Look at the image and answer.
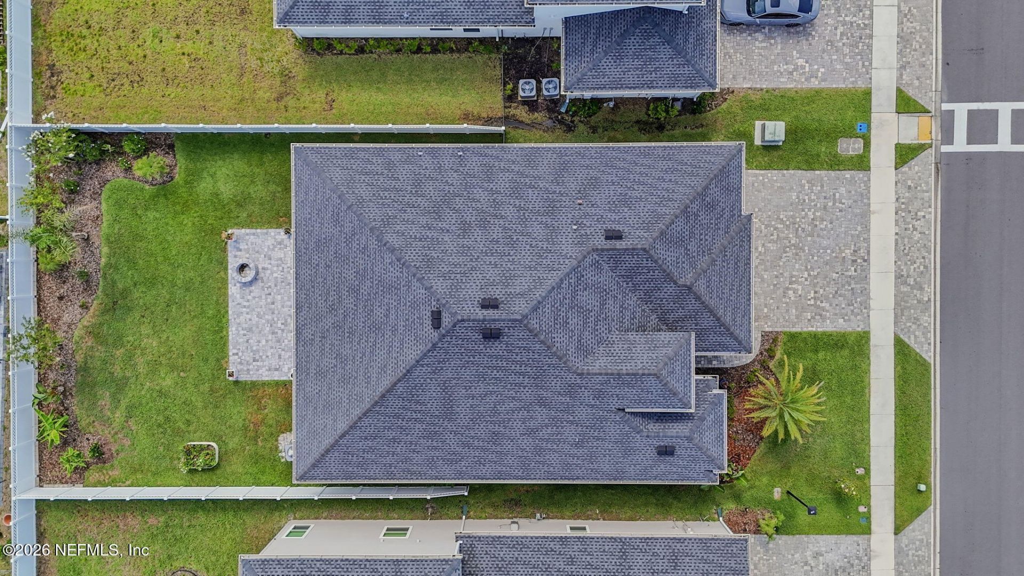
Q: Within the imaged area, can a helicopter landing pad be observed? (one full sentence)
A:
No, there's no helicopter landing pad here.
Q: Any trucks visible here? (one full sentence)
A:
No, I find no truck anywhere in the image.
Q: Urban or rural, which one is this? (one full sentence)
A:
This place is urban.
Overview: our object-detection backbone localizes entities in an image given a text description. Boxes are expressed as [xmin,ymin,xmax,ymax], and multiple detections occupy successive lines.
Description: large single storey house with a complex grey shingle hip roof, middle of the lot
[292,142,759,484]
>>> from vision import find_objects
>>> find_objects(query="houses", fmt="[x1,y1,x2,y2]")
[292,142,759,484]
[239,518,753,576]
[274,0,720,100]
